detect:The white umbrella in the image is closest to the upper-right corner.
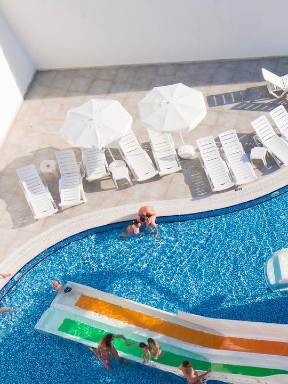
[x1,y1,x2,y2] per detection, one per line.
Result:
[142,88,209,162]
